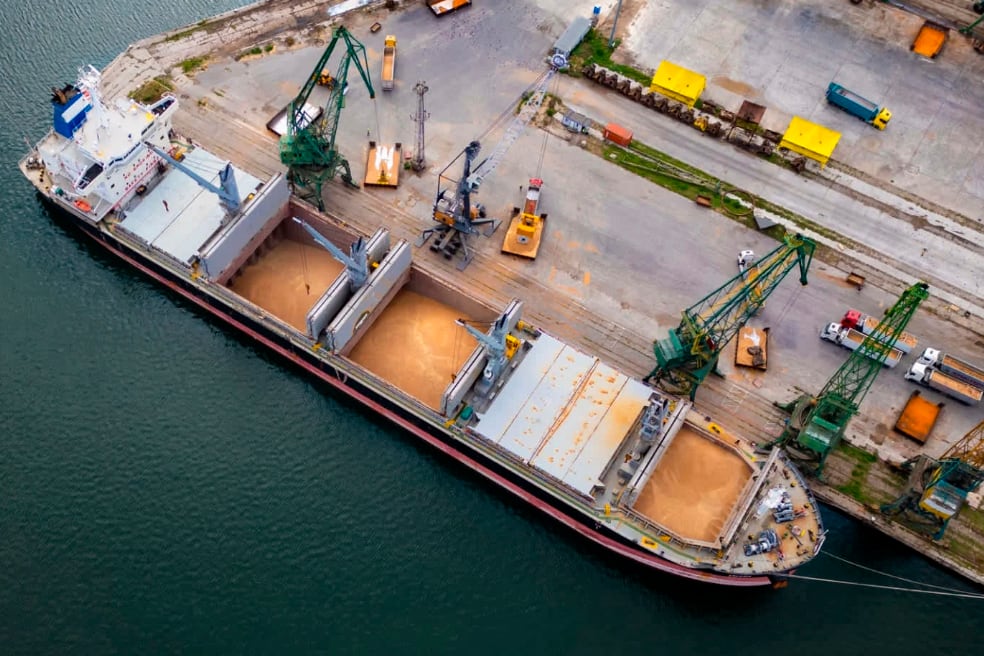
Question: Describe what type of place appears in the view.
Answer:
port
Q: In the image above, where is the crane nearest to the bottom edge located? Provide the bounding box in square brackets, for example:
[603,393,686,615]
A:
[881,434,984,550]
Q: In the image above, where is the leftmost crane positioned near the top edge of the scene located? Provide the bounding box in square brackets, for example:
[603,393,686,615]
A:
[271,23,382,210]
